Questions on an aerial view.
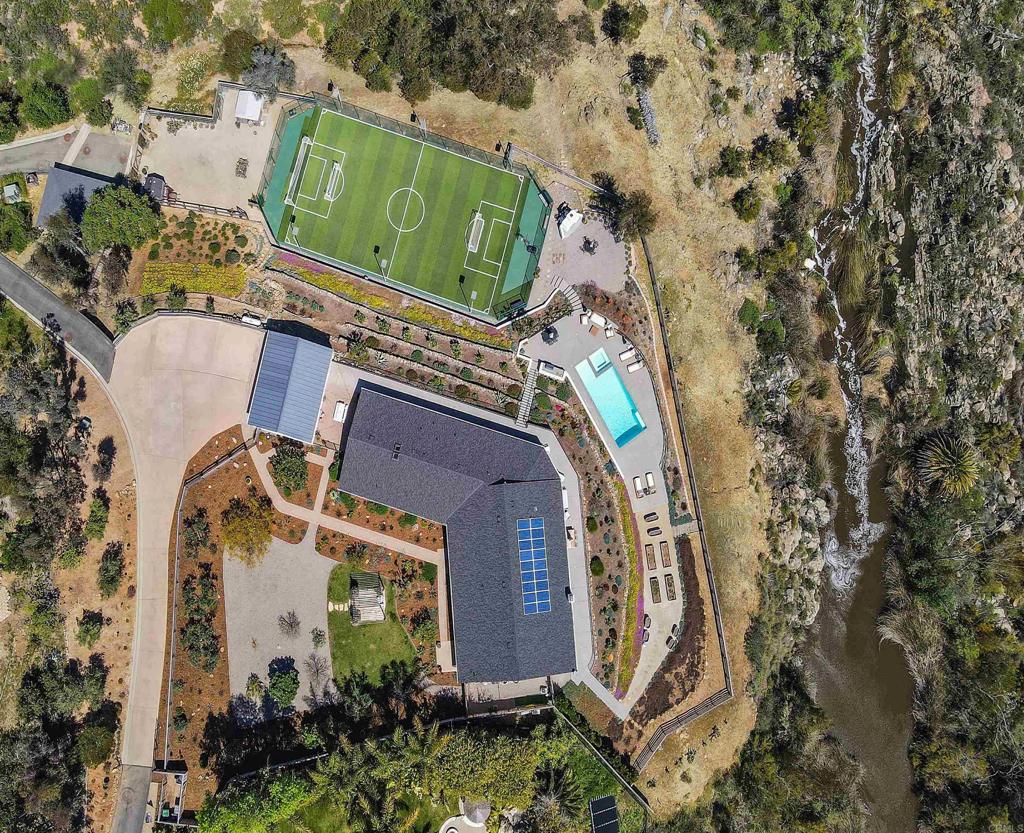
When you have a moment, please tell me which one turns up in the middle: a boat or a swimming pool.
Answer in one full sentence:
Looking in the middle, you will find a swimming pool.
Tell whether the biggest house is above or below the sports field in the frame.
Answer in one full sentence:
In the image, the biggest house sits below the sports field.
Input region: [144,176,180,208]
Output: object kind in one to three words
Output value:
shed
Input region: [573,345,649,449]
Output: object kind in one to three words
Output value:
swimming pool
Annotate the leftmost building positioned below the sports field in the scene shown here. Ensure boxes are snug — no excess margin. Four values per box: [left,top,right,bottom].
[248,331,333,443]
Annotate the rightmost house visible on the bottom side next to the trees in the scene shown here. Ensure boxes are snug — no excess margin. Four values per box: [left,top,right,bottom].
[338,388,576,683]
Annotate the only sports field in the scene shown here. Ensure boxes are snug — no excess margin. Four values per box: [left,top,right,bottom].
[263,103,552,325]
